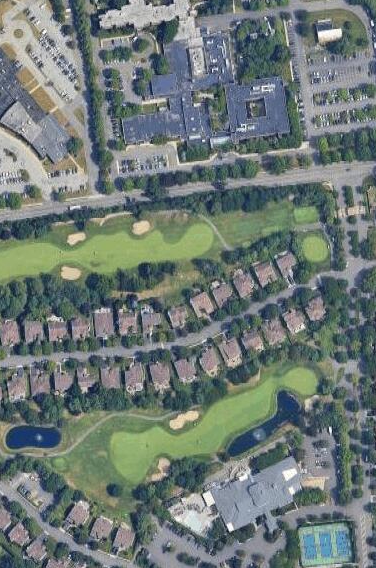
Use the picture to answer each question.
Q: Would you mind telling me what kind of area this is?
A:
residential area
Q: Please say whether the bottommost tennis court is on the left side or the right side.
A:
right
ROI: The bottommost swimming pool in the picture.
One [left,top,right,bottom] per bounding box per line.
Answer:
[187,508,208,533]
